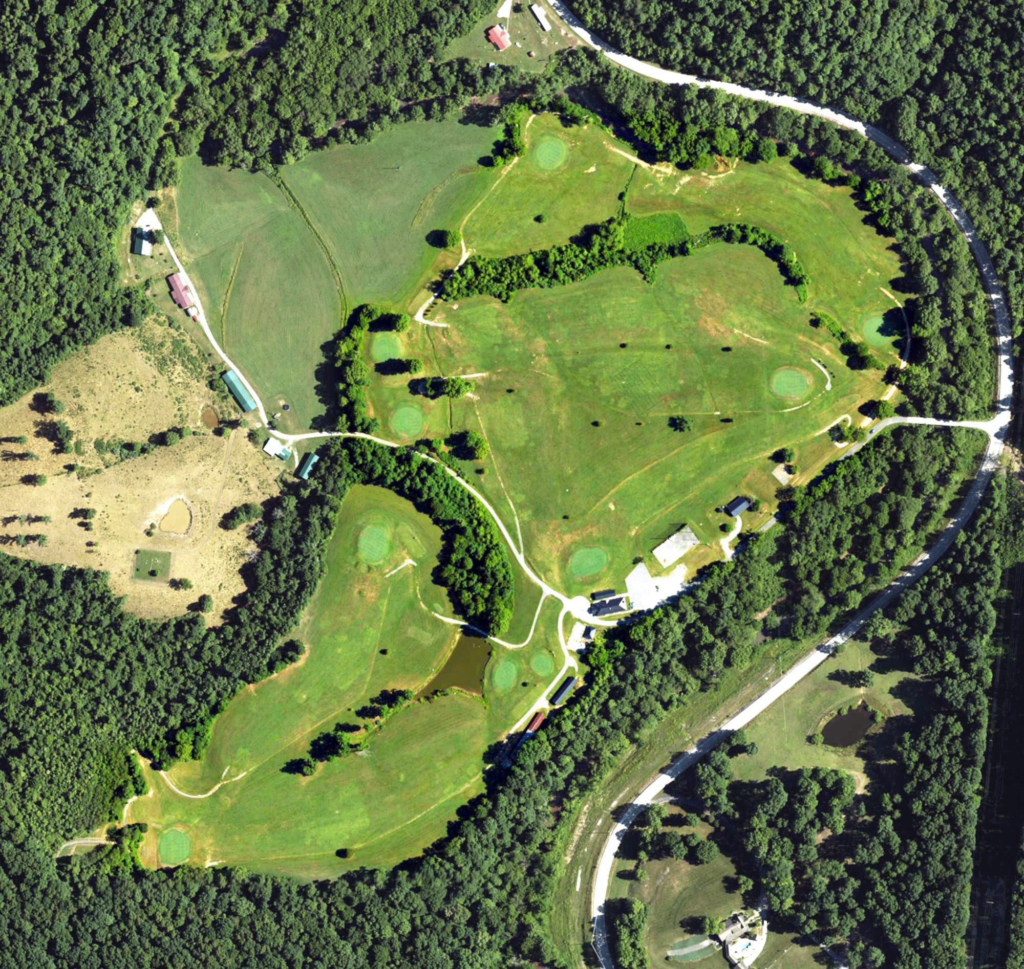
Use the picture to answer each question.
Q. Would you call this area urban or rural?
rural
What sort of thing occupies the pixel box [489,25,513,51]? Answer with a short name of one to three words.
house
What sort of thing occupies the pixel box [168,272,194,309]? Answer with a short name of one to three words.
house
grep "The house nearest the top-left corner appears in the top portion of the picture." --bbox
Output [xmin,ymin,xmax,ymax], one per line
[133,227,150,255]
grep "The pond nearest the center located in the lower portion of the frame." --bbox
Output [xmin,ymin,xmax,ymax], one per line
[419,630,492,697]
